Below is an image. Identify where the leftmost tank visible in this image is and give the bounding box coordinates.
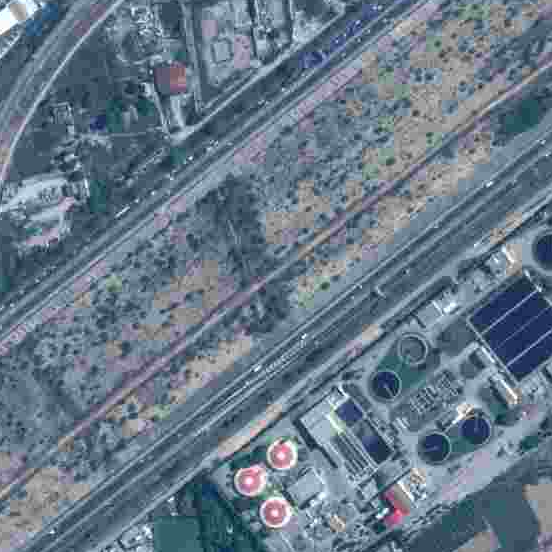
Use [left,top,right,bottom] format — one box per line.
[233,464,264,497]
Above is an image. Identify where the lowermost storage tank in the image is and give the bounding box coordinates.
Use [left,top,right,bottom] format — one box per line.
[258,498,291,529]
